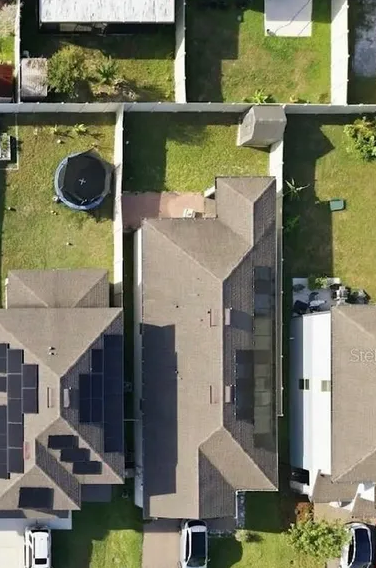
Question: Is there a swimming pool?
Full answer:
No, no swimming pool is visible in the scene.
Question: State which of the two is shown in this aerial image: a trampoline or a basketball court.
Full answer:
I can see a trampoline in this picture.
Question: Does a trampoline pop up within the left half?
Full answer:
Yes, I can see a trampoline within the left half.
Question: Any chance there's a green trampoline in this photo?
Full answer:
No, no green trampoline can be seen from above.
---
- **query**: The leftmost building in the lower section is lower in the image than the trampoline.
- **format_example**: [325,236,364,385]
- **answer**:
[0,269,125,517]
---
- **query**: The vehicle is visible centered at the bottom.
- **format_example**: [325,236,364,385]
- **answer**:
[181,523,213,568]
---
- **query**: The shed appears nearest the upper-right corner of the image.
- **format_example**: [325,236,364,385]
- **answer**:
[238,101,289,150]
